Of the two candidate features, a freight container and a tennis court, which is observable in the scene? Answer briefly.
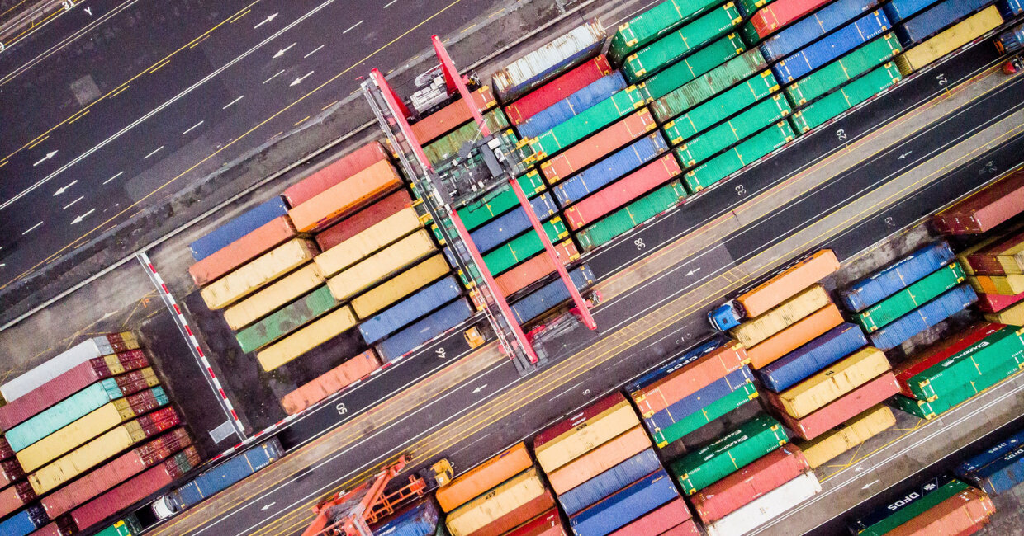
freight container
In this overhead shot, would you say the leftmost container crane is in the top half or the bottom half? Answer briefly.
bottom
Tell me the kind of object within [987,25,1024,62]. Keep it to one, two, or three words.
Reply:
truck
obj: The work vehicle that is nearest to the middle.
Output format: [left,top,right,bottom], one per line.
[454,318,496,353]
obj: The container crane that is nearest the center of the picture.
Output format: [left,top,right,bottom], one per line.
[346,34,604,381]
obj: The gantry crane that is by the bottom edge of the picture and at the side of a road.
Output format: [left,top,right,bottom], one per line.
[292,454,432,536]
